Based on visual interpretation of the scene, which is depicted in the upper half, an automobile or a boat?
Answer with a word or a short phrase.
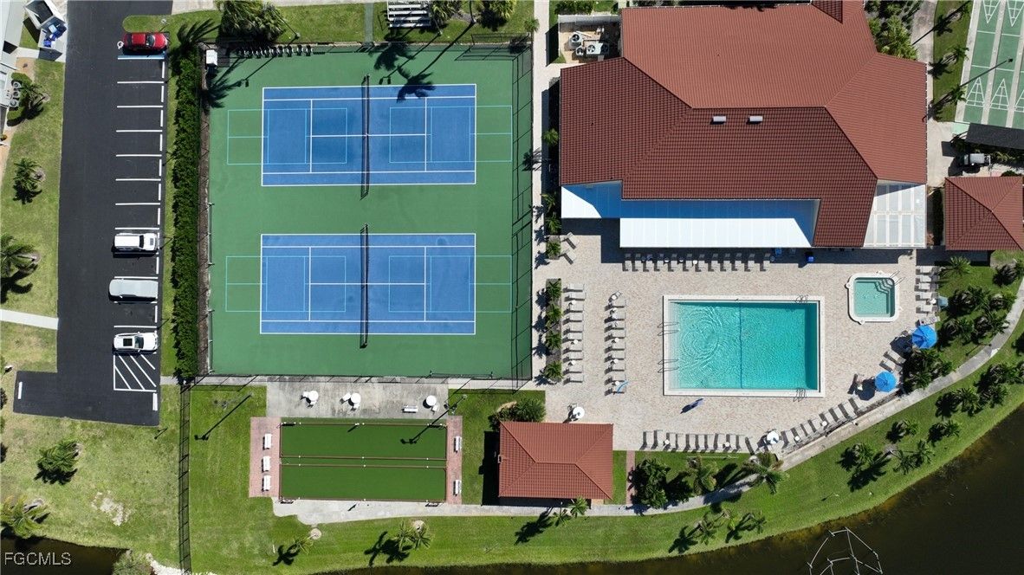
automobile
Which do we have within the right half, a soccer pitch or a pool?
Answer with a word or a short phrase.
pool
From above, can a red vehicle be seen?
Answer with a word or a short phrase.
Yes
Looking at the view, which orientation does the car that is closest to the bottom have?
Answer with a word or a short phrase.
horizontally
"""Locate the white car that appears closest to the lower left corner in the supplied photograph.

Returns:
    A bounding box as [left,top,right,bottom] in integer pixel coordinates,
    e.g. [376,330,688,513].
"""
[112,332,160,353]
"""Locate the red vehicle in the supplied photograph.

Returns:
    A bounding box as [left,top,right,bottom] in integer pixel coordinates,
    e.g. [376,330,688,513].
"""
[122,29,170,51]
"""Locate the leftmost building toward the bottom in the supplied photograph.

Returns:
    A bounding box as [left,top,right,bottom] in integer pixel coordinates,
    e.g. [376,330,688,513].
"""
[498,420,614,501]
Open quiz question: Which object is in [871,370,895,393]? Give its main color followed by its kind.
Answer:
blue umbrella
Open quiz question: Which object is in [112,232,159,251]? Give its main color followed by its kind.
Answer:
white car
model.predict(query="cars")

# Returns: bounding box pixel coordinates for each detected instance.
[122,29,170,51]
[112,332,160,353]
[108,279,158,301]
[112,232,159,251]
